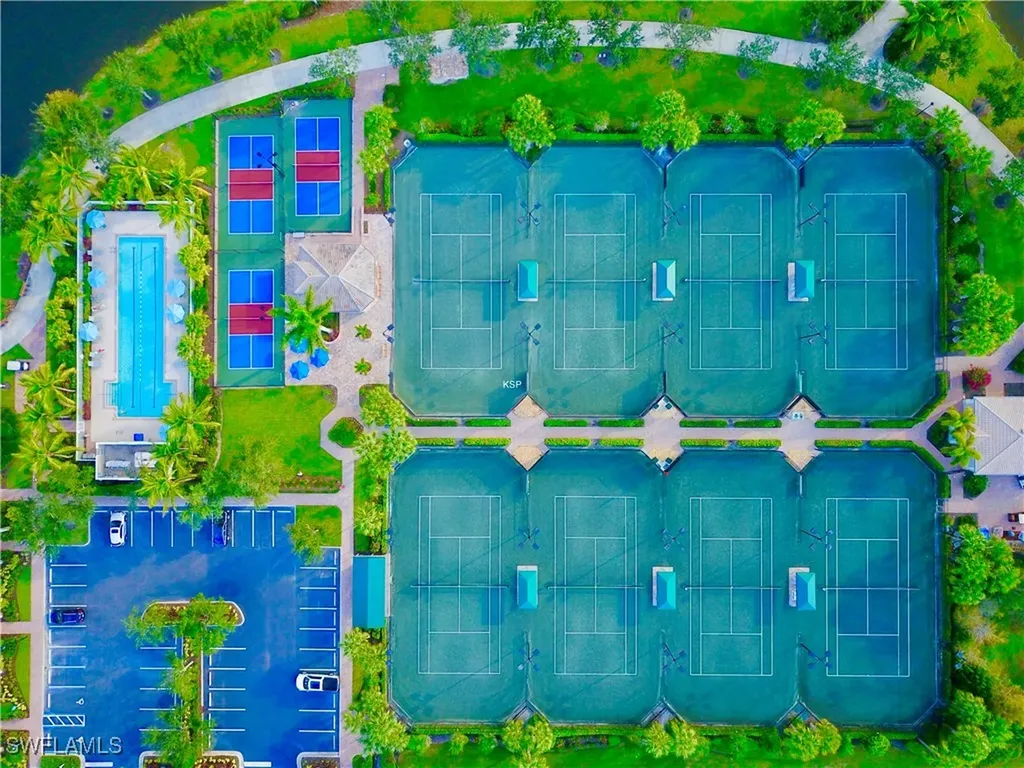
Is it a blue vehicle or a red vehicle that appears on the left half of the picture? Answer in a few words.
blue vehicle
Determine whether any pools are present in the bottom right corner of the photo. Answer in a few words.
No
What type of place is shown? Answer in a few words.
sports ground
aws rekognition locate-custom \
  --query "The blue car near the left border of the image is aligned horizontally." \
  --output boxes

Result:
[50,609,87,627]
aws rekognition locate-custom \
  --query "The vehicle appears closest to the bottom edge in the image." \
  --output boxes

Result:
[296,672,340,693]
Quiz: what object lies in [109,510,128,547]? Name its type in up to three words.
car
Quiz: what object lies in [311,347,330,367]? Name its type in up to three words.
umbrella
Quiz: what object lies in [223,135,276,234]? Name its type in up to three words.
sports court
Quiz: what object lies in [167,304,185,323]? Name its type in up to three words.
umbrella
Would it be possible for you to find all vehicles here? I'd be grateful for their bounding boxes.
[296,672,340,693]
[50,609,87,627]
[5,361,30,371]
[109,510,128,547]
[212,510,231,547]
